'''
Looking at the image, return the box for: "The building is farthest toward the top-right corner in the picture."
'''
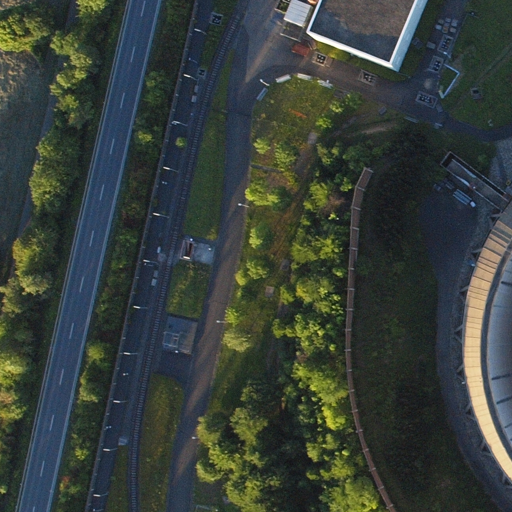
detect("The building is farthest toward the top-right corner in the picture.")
[307,0,427,71]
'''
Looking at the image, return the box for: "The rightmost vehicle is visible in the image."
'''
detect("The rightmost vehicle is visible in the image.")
[449,188,475,209]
